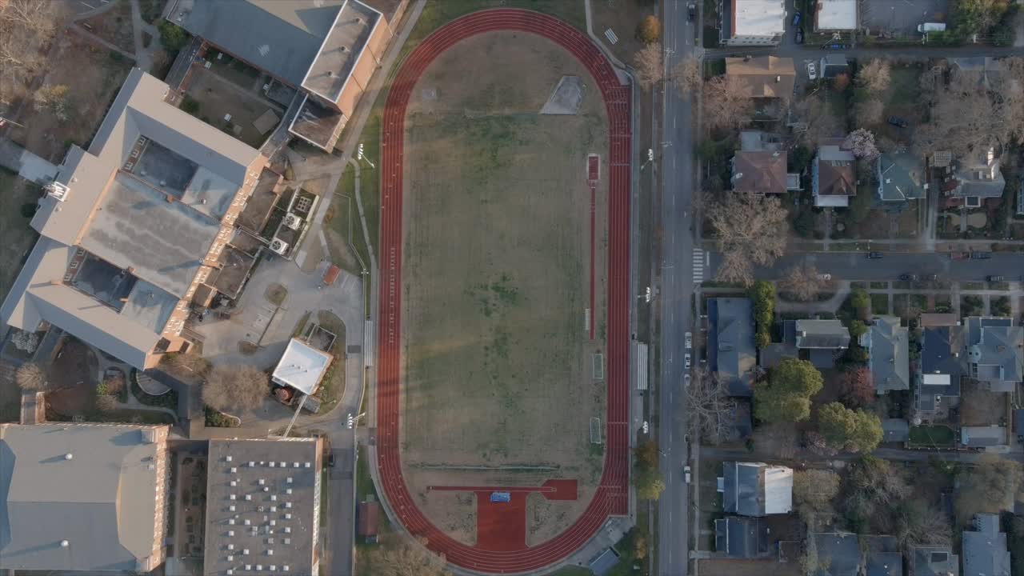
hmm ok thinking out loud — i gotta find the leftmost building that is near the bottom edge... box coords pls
[0,421,183,573]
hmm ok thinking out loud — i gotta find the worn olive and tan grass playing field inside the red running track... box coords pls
[401,36,607,550]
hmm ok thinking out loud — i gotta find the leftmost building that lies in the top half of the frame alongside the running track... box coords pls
[0,67,286,371]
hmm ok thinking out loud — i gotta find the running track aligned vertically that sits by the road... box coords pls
[375,11,633,576]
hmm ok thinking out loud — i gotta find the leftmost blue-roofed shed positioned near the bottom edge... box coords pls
[588,545,620,576]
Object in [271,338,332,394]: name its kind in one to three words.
building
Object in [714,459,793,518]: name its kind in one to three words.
house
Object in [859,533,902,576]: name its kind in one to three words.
house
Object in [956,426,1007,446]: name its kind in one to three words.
building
